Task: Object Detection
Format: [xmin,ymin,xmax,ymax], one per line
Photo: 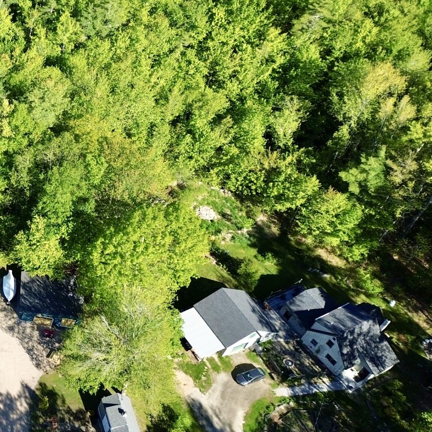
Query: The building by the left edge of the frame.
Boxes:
[19,271,78,326]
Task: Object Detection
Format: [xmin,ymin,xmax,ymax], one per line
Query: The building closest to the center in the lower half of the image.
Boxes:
[182,291,275,363]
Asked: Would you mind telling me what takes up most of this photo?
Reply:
trees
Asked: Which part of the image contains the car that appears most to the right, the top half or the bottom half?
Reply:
bottom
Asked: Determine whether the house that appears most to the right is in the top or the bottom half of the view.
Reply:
bottom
